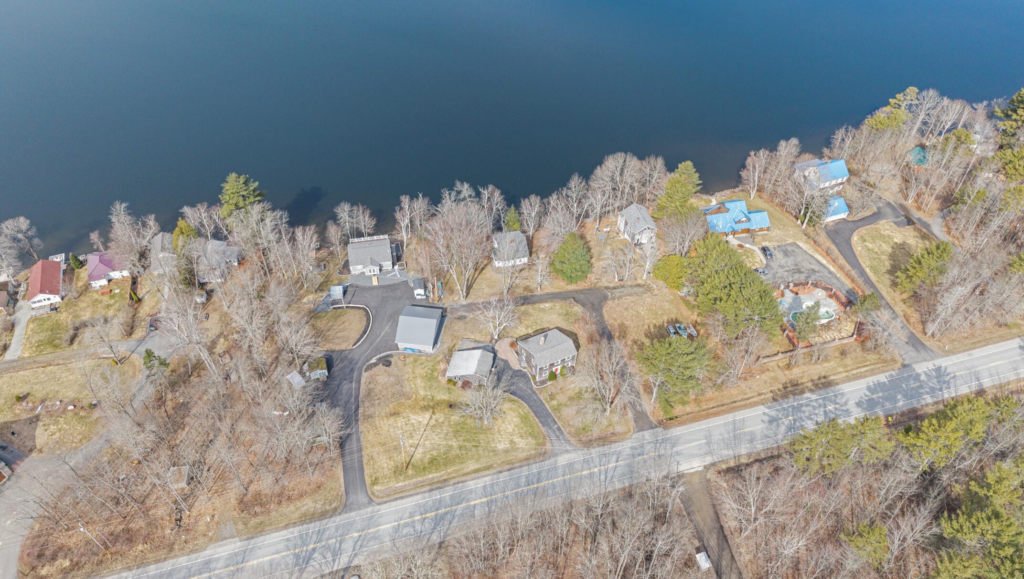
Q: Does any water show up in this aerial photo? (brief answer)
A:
Yes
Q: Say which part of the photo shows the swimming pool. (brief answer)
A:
right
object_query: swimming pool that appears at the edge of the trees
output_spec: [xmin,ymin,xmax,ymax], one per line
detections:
[790,299,836,325]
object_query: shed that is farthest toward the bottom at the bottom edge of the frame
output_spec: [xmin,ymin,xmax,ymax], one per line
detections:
[693,550,716,575]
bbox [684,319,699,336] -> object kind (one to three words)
boat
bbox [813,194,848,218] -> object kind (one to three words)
building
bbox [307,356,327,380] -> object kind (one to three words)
shed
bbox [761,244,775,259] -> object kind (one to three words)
car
